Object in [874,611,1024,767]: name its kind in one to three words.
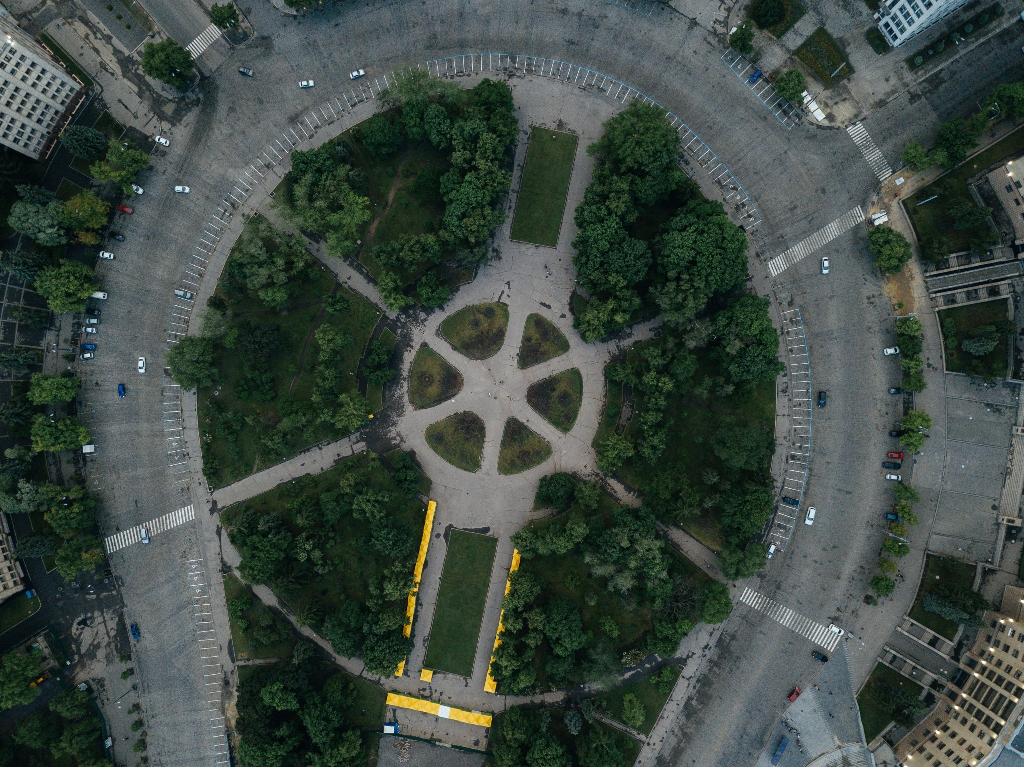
building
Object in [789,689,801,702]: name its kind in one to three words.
vehicle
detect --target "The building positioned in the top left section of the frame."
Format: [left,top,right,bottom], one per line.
[0,26,91,165]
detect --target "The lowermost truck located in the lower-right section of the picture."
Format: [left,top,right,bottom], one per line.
[766,733,788,766]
